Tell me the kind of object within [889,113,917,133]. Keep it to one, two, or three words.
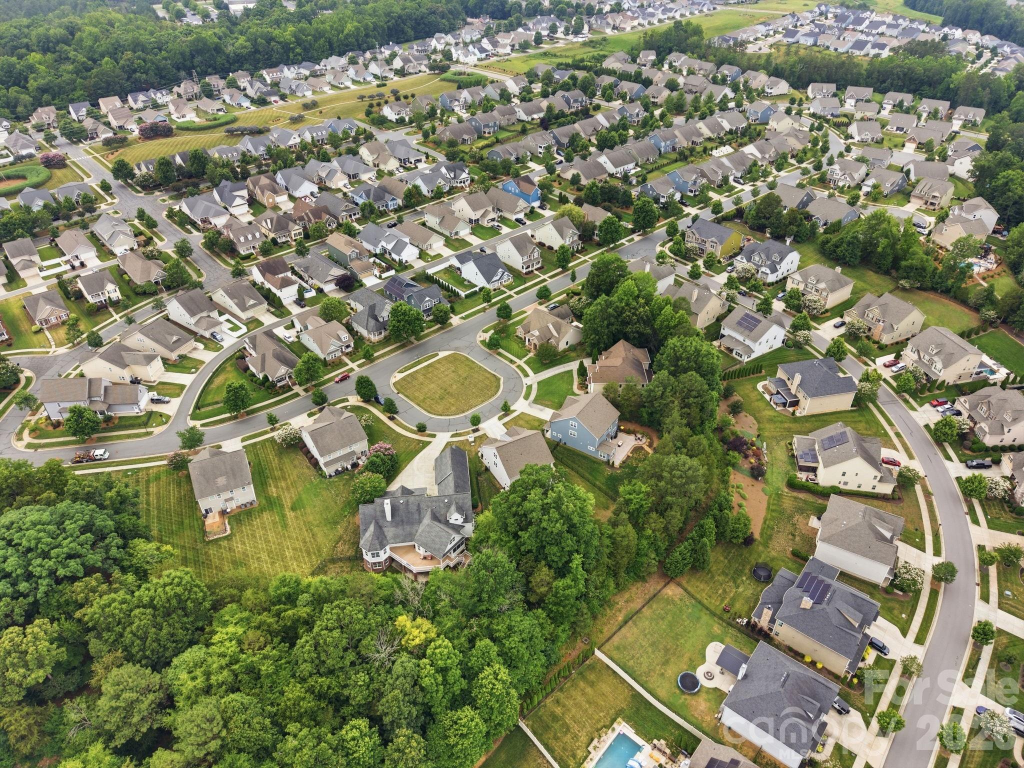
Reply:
house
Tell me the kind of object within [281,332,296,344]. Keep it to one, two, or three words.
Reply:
vehicle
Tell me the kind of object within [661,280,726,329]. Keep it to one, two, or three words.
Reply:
house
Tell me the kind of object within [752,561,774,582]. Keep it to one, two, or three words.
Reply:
trampoline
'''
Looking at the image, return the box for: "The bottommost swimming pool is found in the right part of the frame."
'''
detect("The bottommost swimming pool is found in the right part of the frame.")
[590,728,646,768]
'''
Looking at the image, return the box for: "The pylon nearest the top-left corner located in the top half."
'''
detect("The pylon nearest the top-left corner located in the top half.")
[186,68,208,102]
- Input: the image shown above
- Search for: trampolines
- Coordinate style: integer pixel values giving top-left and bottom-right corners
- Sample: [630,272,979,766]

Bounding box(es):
[677,669,702,694]
[752,561,774,582]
